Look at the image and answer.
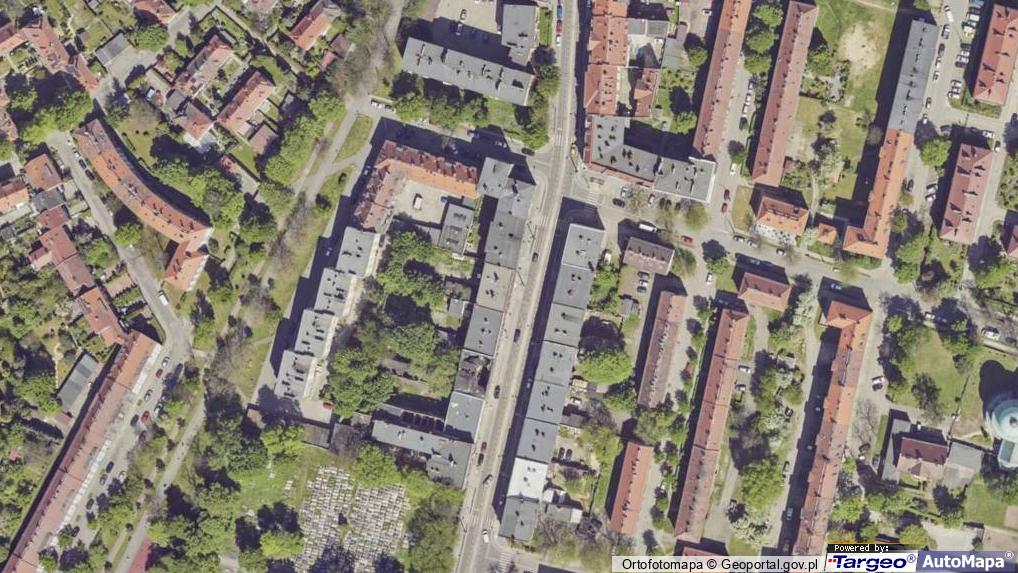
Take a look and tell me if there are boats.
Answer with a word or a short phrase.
No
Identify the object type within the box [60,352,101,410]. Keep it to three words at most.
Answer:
building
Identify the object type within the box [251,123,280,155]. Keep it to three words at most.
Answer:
shed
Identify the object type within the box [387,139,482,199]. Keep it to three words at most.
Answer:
house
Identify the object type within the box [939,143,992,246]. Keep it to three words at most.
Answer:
house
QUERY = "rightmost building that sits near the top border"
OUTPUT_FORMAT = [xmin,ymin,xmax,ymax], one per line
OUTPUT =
[973,3,1018,107]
